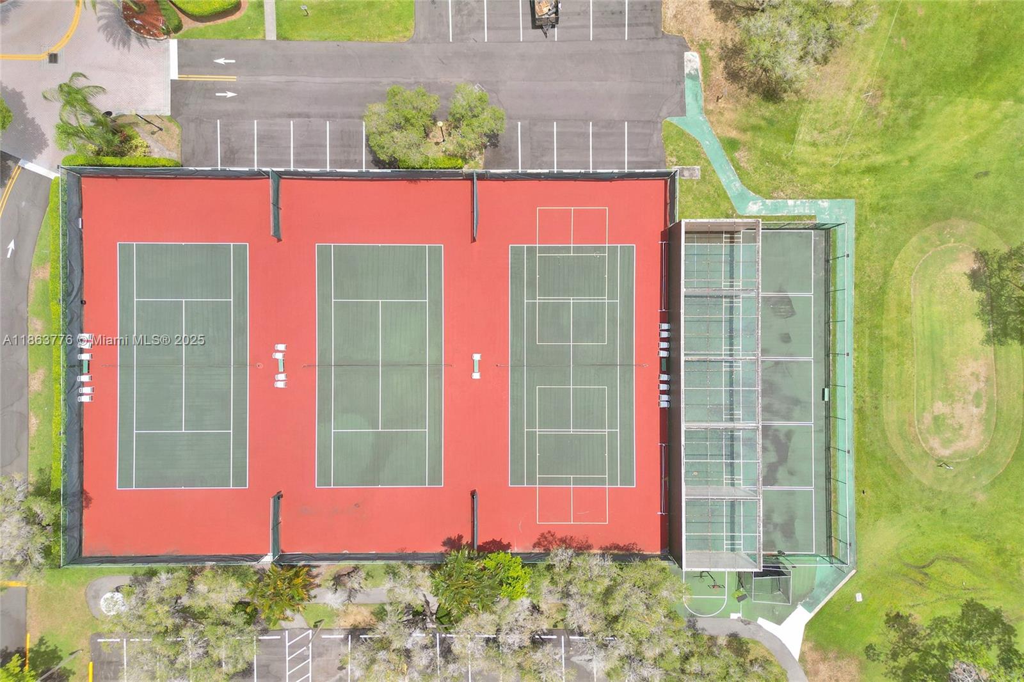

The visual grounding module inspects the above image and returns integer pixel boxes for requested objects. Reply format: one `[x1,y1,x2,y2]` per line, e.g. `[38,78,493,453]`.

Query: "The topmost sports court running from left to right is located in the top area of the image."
[667,228,827,294]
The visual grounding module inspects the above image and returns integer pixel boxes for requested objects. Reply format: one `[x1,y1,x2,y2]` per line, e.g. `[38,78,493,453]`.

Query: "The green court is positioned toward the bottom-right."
[668,555,827,625]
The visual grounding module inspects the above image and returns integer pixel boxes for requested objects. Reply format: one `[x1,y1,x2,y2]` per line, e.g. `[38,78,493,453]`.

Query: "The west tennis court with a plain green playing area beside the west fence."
[85,179,279,554]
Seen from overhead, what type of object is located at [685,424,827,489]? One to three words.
sports court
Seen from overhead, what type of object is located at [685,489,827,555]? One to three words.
sports court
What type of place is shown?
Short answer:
sports ground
